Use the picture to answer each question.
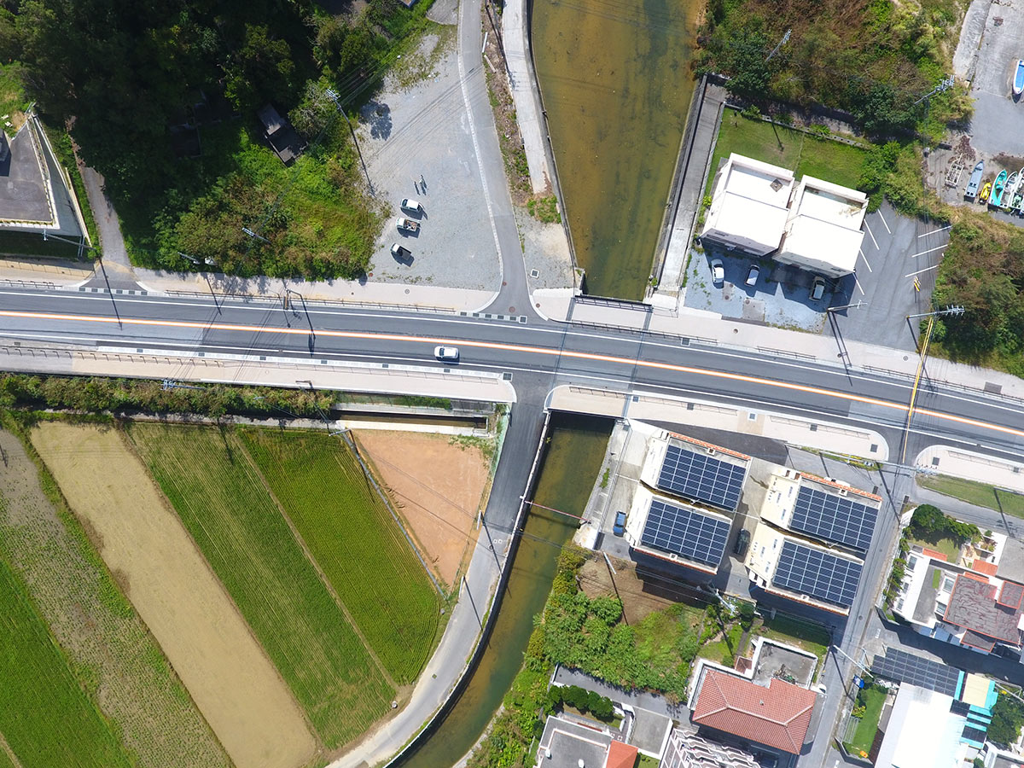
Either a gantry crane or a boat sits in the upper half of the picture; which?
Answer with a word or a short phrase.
boat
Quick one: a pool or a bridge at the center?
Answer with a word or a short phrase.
bridge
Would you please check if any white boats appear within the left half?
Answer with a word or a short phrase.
No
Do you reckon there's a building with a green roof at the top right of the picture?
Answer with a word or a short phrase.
No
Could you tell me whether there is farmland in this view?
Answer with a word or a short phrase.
Yes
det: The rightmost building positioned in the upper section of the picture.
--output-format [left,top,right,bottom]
[767,176,866,280]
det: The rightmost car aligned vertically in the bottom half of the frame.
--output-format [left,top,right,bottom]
[736,530,751,558]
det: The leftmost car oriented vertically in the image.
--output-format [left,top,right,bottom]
[614,511,626,536]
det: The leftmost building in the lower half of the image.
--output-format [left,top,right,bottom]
[523,706,638,768]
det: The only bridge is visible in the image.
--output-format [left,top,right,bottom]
[548,293,654,421]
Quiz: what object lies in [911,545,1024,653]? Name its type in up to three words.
house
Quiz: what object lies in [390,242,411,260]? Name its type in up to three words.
vehicle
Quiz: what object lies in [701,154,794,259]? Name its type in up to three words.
building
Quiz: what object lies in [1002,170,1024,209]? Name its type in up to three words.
boat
